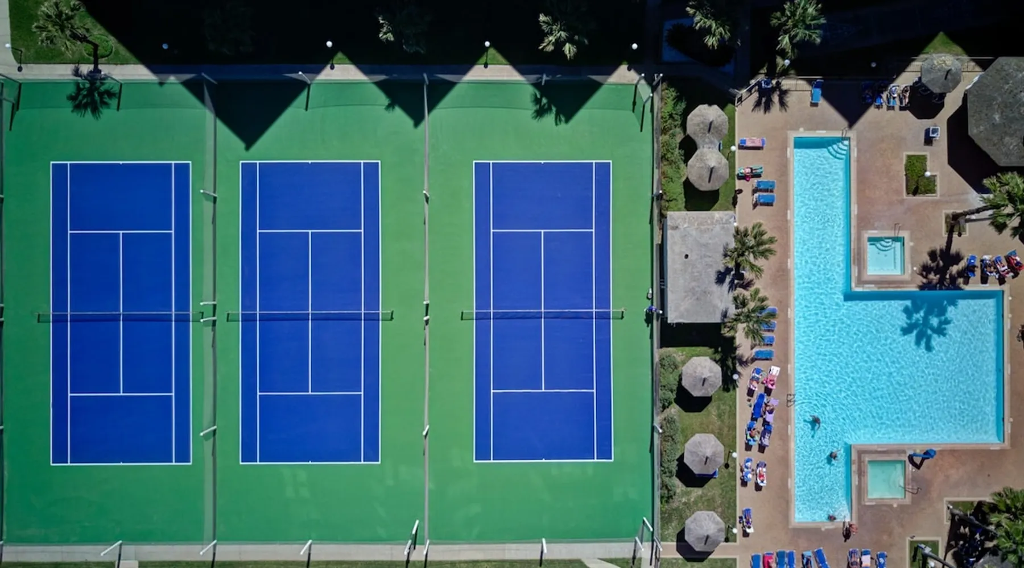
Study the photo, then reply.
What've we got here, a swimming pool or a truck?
swimming pool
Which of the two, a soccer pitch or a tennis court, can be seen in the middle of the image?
tennis court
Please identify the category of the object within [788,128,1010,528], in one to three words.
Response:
swimming pool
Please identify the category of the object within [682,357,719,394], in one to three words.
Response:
umbrella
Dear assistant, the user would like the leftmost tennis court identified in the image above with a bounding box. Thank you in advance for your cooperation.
[3,78,216,543]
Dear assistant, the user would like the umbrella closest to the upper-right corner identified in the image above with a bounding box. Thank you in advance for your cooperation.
[923,55,960,93]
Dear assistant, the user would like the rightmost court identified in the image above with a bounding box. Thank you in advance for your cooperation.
[428,78,654,543]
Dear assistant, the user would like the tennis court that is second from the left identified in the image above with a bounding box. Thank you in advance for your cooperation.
[216,78,428,544]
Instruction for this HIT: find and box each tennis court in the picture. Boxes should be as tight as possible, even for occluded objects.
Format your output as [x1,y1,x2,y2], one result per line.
[3,78,216,543]
[428,78,654,543]
[216,78,428,544]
